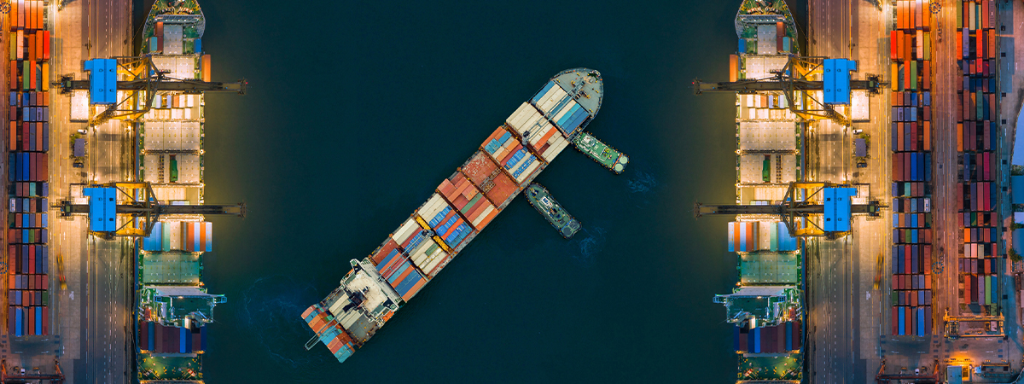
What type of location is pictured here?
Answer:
port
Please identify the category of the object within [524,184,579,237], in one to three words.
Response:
boat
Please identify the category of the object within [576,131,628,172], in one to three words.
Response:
boat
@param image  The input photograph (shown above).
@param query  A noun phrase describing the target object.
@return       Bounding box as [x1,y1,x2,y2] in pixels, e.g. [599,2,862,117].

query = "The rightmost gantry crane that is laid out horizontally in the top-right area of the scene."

[695,50,889,125]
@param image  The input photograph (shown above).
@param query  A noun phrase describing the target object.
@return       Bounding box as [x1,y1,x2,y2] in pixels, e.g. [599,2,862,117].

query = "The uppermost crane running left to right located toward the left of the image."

[52,50,247,125]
